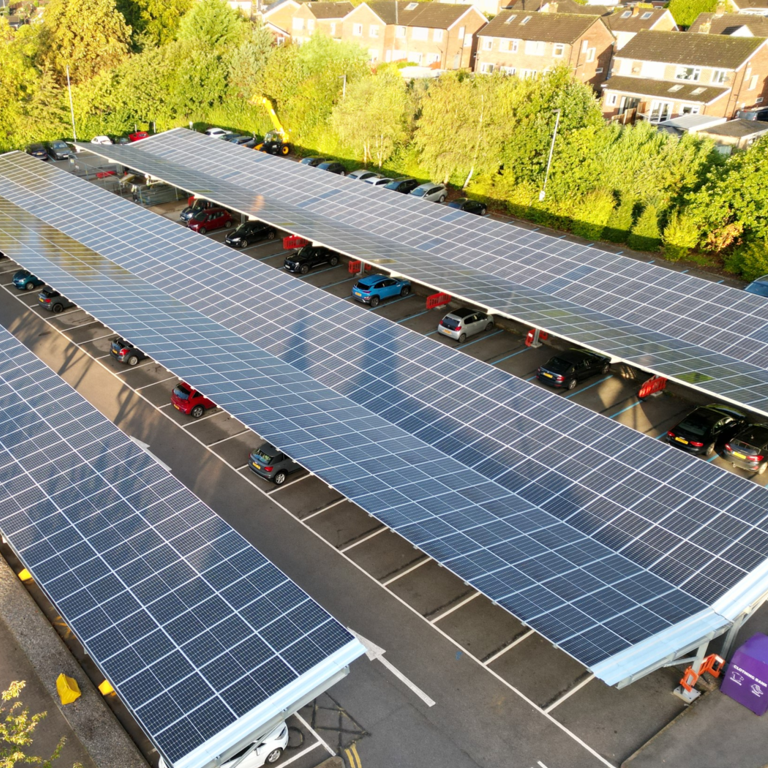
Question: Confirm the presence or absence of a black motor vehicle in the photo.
Yes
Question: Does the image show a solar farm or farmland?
solar farm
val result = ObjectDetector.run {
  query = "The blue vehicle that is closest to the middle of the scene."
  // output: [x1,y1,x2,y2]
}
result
[351,275,410,307]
